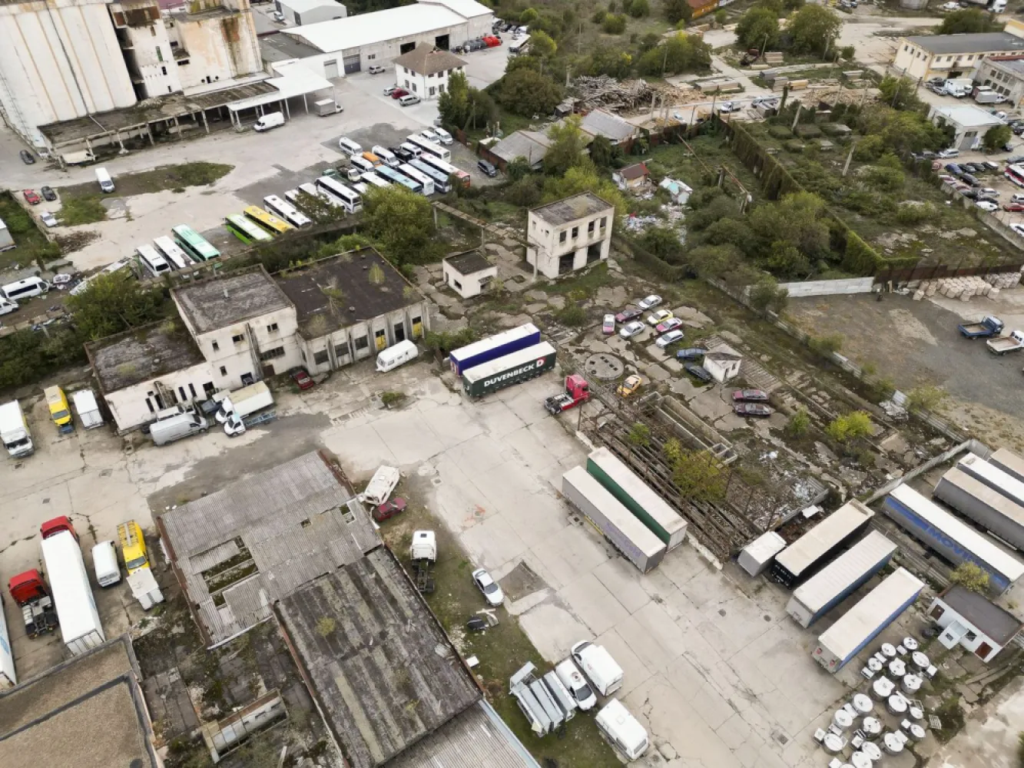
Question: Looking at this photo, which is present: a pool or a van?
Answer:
van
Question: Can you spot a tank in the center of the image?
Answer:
No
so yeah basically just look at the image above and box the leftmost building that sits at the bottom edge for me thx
[0,635,174,768]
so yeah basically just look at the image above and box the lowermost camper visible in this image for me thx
[587,698,662,768]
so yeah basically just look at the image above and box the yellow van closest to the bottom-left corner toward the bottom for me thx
[114,524,151,573]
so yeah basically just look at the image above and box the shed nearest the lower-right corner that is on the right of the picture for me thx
[924,576,1024,664]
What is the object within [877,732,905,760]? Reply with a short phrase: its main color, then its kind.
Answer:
white storage tank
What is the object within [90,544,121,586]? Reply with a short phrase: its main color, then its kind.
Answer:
white van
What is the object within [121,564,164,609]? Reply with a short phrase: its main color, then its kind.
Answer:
white trailer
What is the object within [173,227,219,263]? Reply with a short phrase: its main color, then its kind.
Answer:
white bus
